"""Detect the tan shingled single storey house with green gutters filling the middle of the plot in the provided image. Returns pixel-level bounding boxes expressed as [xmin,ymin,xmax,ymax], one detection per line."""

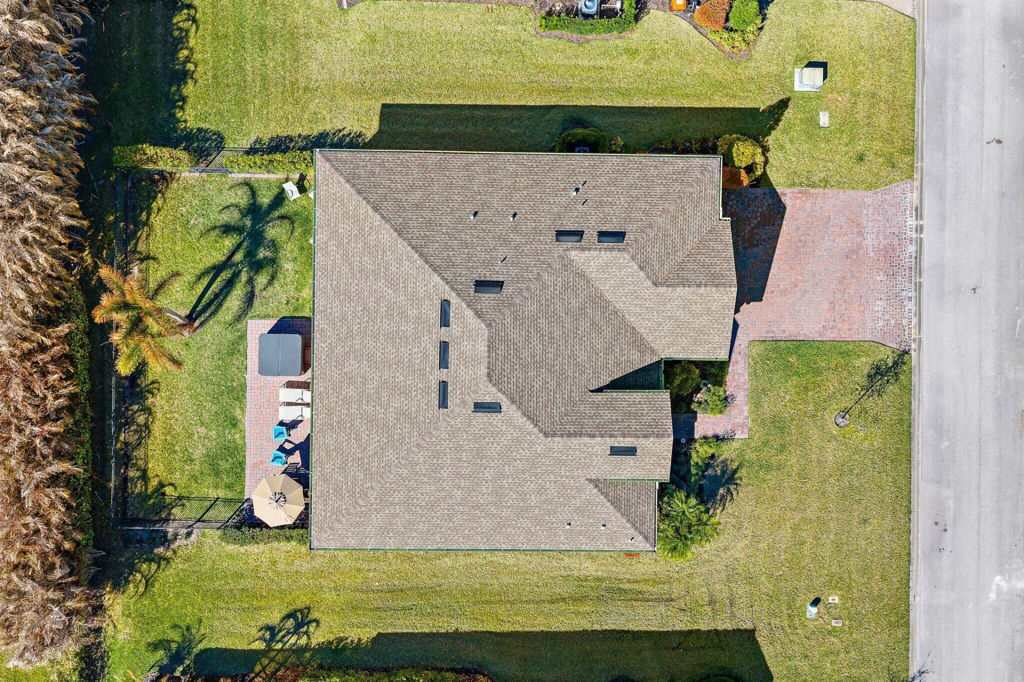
[307,147,737,556]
